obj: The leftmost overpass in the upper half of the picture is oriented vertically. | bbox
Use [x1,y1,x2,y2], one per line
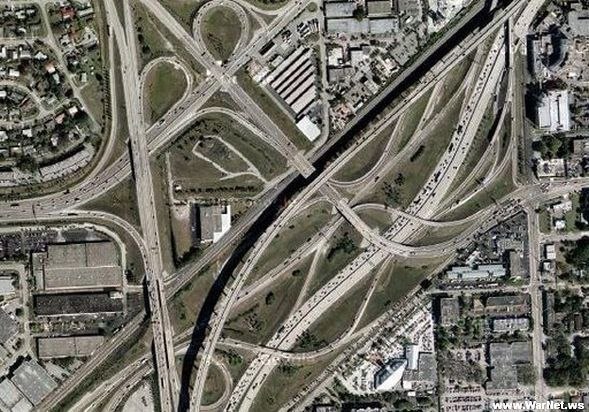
[124,127,150,184]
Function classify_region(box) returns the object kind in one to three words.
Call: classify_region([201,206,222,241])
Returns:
building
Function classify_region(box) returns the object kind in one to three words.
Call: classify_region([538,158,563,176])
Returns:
building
